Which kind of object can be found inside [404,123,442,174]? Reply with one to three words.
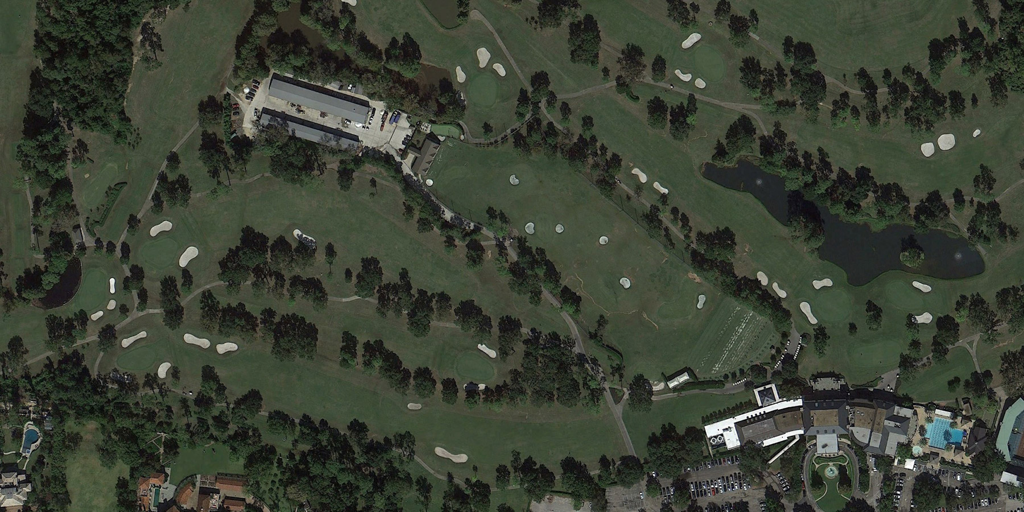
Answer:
building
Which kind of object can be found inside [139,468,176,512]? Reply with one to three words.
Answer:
house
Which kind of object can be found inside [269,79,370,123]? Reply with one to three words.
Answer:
shed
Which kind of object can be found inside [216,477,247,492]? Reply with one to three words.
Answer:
shed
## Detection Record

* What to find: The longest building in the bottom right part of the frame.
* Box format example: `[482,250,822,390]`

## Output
[705,377,918,463]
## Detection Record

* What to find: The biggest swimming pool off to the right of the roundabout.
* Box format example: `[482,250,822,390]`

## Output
[924,417,963,449]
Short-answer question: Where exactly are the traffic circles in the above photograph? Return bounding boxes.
[800,437,863,512]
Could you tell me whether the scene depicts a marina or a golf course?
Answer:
golf course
